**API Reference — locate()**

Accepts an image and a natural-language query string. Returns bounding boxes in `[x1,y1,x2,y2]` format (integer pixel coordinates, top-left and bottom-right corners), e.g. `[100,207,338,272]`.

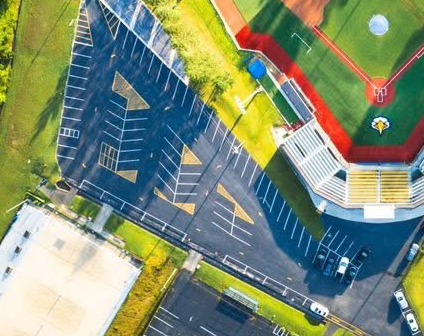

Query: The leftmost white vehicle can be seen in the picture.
[309,303,329,320]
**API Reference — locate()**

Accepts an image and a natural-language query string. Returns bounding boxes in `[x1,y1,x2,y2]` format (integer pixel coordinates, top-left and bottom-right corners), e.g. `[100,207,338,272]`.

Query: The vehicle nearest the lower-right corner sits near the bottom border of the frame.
[407,313,421,333]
